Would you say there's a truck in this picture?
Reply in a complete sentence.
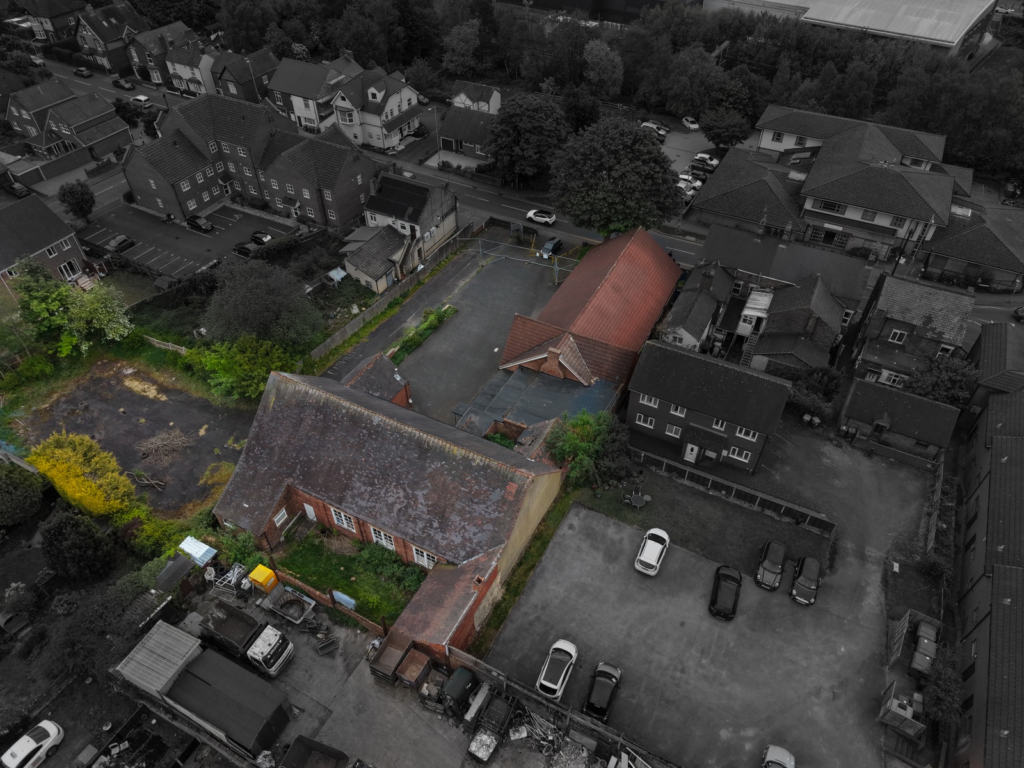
Yes, there's a truck here.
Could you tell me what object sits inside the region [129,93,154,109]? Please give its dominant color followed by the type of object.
gray car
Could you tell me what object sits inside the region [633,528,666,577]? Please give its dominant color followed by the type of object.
white car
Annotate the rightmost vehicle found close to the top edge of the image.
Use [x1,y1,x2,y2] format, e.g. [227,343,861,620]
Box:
[991,2,1016,17]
